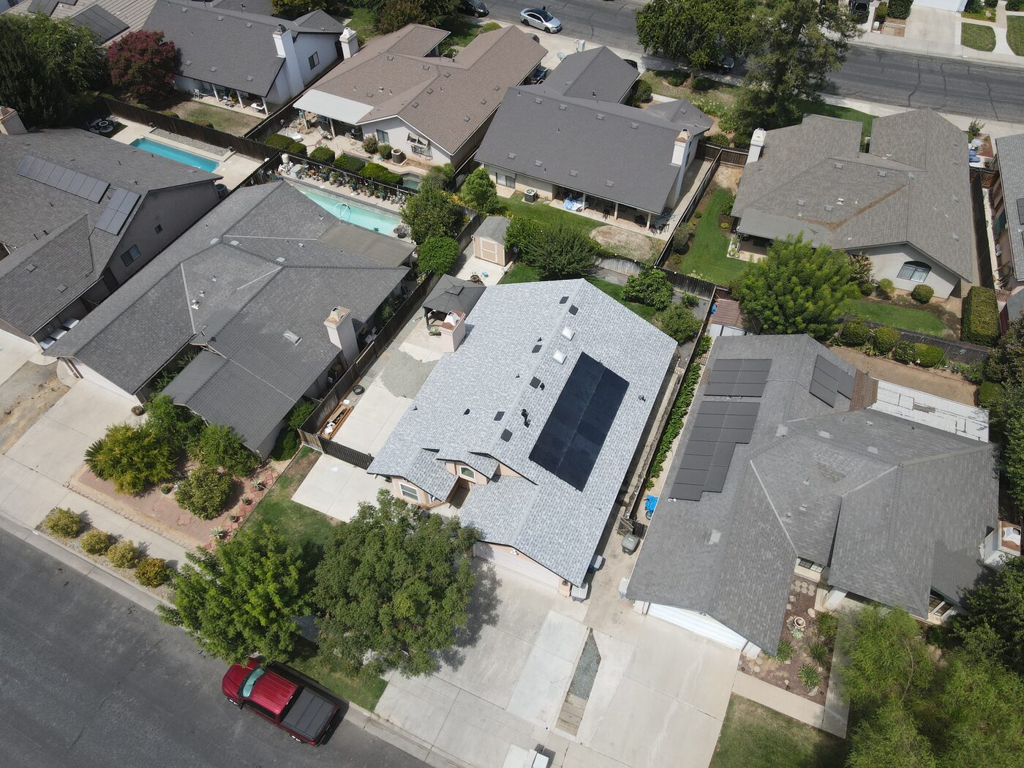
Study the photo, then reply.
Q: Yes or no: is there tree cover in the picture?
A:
Yes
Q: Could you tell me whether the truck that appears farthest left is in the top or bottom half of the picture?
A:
bottom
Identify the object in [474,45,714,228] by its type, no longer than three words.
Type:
house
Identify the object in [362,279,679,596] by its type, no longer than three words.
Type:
house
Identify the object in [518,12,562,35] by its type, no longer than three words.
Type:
car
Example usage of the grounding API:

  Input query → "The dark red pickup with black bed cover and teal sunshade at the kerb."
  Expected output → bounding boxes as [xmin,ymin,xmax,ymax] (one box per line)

[219,658,346,752]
